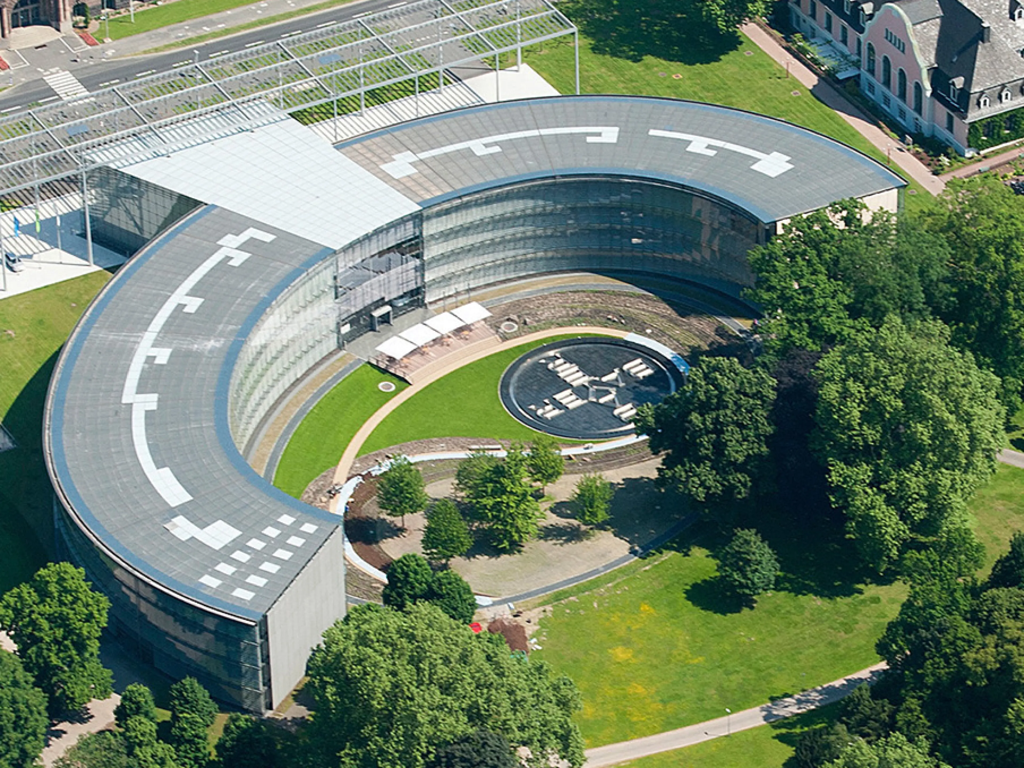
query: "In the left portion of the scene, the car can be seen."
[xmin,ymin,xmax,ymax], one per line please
[3,249,24,267]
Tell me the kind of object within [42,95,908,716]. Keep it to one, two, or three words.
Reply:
building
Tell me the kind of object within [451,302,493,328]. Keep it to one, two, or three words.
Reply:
umbrella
